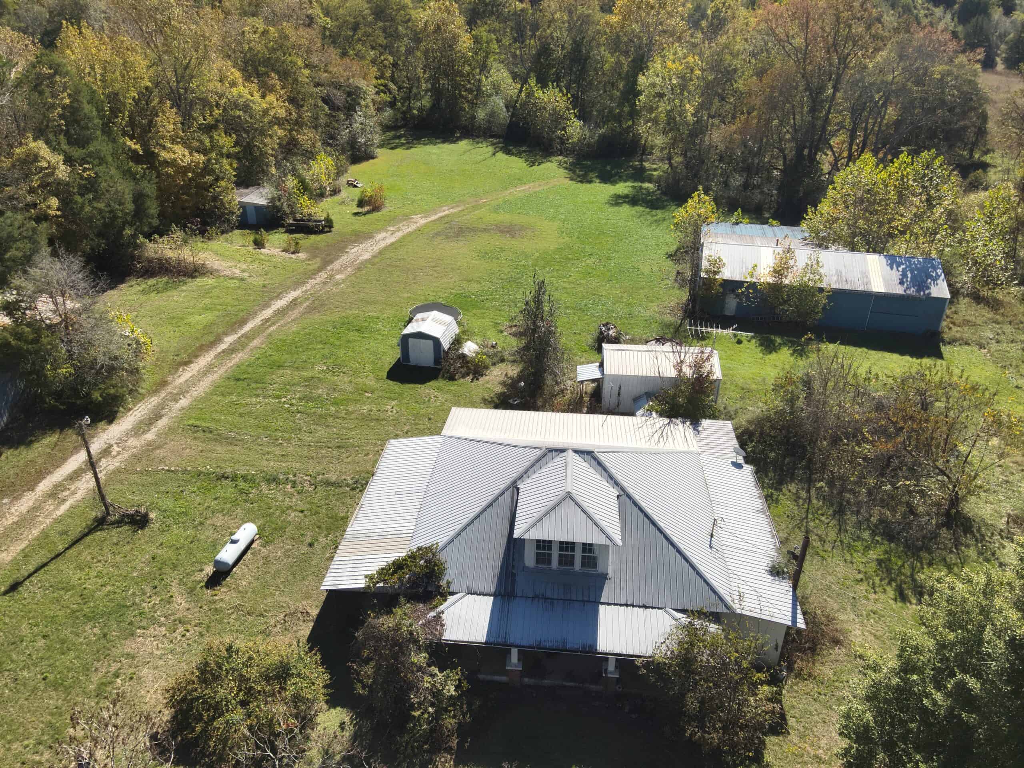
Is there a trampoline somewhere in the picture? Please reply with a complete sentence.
Yes, you can see a trampoline in this photo.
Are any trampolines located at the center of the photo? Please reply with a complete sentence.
Yes, a trampoline can be seen at the center of the photo.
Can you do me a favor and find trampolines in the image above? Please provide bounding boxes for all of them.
[408,301,464,325]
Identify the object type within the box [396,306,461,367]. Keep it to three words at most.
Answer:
shed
